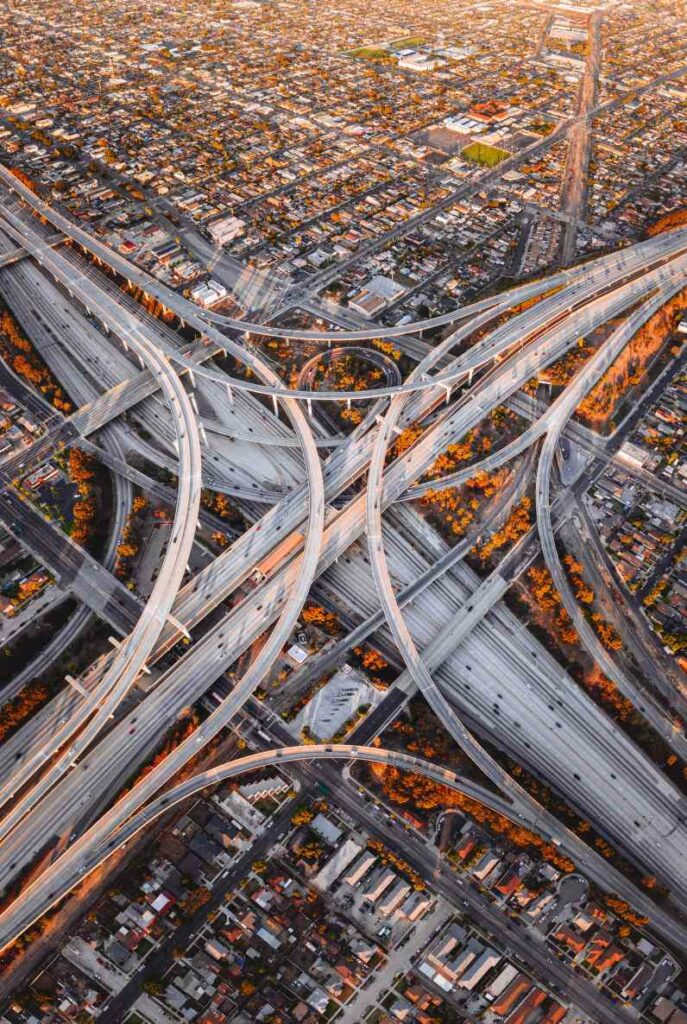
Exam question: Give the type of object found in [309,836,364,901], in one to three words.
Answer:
building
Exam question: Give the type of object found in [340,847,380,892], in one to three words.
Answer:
building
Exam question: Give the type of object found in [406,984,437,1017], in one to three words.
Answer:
house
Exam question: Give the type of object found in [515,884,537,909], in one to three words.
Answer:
house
